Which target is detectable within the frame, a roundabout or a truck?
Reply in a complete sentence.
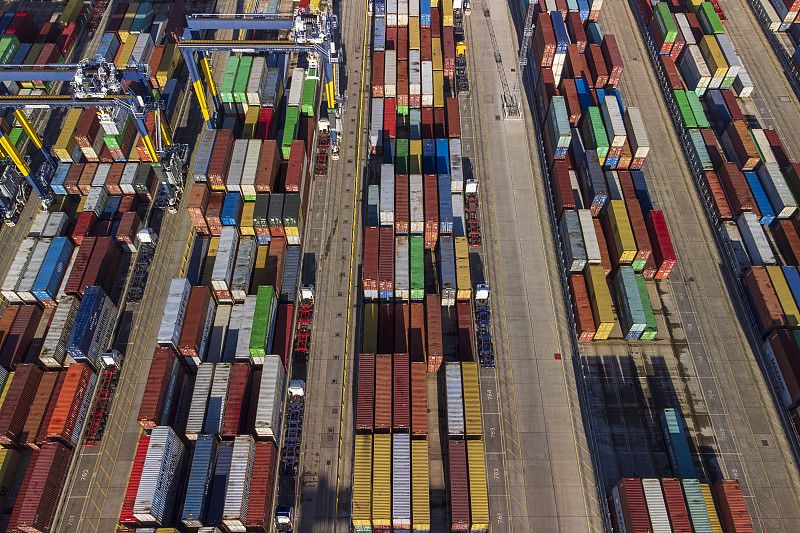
This aerial view contains a truck.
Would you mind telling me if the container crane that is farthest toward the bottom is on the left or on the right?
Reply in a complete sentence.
It is on the left.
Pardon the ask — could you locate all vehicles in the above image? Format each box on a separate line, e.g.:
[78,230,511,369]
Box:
[463,178,483,247]
[271,505,294,533]
[313,115,331,175]
[80,351,124,449]
[454,41,469,91]
[291,278,316,363]
[452,0,464,34]
[473,283,496,369]
[277,381,305,484]
[123,227,159,304]
[712,0,730,20]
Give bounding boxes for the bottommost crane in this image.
[0,150,52,220]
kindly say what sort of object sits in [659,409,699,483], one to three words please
shipping container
